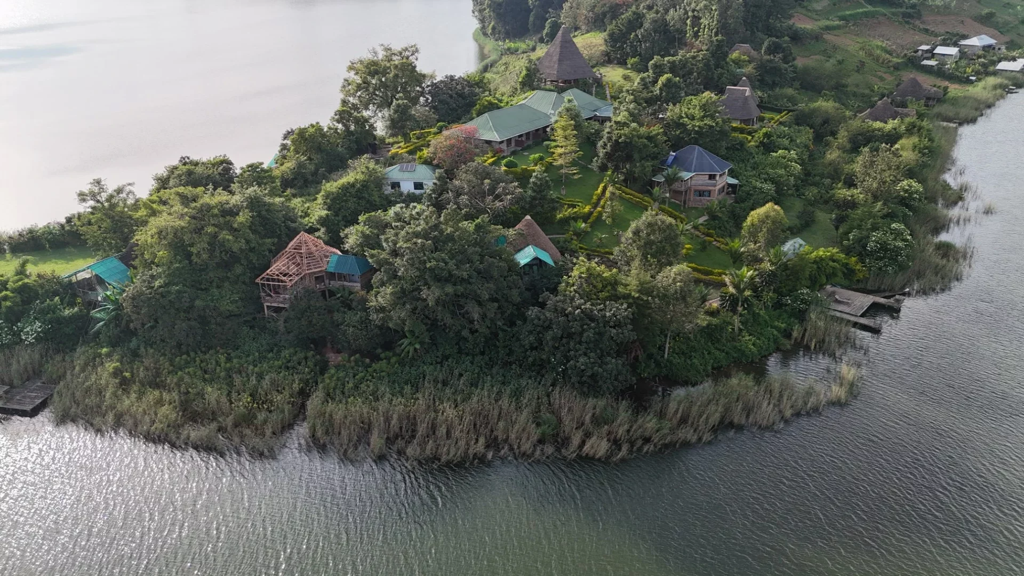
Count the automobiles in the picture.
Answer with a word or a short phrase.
0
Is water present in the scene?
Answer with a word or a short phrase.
Yes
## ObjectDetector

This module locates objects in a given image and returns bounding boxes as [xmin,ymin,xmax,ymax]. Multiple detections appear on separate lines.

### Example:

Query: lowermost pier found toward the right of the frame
[823,288,906,334]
